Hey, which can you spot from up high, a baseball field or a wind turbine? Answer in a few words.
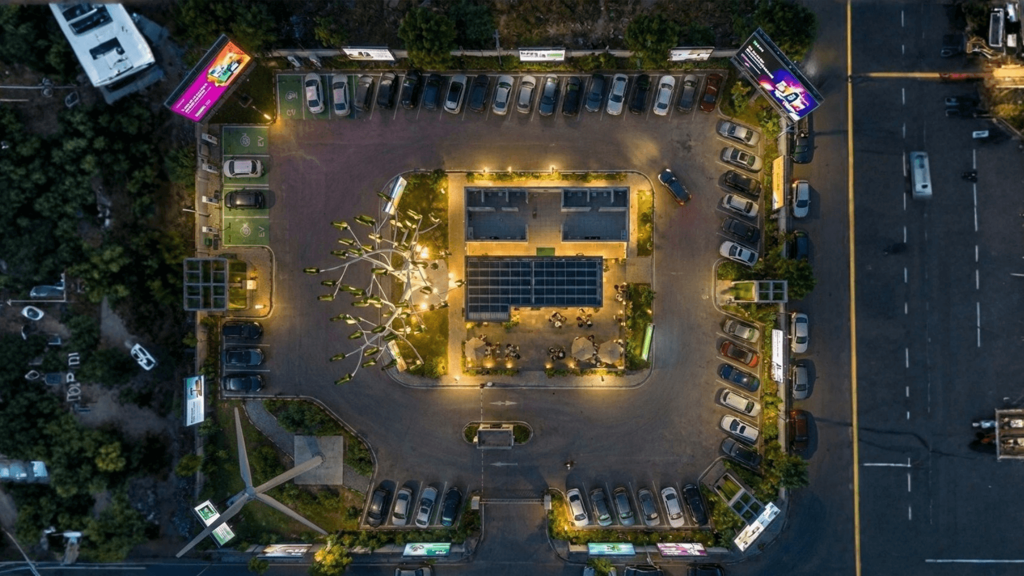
wind turbine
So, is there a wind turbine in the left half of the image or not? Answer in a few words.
Yes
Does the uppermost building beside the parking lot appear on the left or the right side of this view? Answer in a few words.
left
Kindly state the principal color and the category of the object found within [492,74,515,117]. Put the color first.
gray car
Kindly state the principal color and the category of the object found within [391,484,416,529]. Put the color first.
gray car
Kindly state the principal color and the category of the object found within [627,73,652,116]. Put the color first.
black car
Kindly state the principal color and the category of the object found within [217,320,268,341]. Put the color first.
black car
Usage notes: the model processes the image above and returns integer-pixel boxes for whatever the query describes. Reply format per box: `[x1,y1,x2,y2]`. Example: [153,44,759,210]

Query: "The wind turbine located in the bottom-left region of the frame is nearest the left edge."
[176,409,343,557]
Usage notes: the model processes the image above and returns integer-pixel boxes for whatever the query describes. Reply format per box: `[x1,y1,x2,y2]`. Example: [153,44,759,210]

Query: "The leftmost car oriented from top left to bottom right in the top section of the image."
[655,167,694,207]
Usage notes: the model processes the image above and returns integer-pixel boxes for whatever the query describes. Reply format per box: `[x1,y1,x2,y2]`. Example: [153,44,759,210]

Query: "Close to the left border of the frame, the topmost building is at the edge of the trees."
[51,0,180,103]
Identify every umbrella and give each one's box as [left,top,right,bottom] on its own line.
[464,337,488,361]
[599,339,623,362]
[571,336,595,360]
